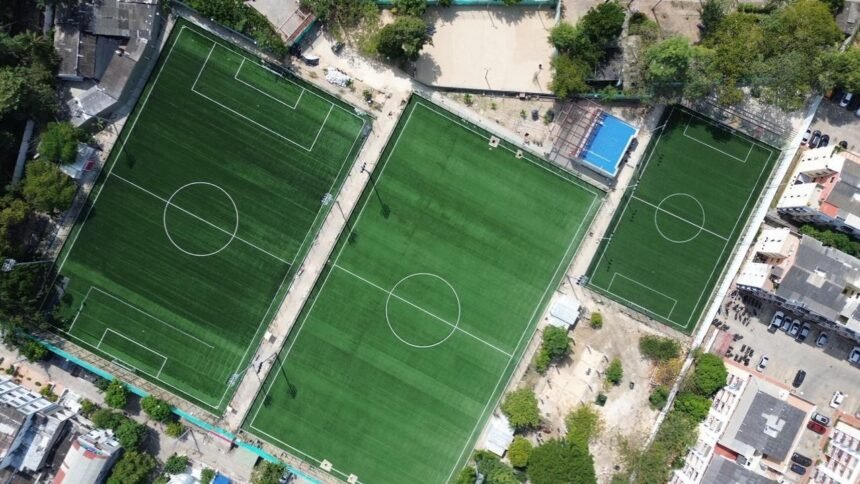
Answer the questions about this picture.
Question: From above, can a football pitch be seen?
Yes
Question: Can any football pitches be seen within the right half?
Yes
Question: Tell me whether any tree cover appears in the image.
Yes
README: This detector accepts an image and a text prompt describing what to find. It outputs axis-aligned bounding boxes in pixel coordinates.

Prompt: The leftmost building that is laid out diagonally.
[10,410,74,484]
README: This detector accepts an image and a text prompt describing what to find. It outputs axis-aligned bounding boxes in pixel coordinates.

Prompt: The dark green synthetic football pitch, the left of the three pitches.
[31,15,373,418]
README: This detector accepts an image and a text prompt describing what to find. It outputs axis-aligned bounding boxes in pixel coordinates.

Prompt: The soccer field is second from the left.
[239,92,610,484]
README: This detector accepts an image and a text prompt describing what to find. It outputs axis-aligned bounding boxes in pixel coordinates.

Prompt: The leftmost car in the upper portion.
[330,39,345,56]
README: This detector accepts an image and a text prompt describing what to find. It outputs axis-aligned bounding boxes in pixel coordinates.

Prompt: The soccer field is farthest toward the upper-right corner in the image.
[585,101,782,338]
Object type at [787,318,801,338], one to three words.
car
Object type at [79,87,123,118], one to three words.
building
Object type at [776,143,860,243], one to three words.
building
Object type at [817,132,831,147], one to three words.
vehicle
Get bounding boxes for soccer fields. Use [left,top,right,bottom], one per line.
[31,15,373,418]
[585,101,782,338]
[239,92,610,484]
